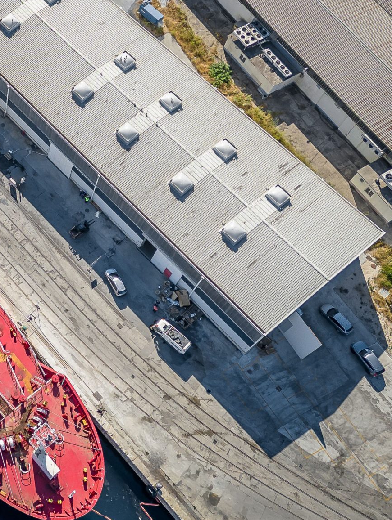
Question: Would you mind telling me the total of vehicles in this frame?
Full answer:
The number of vehicles here is 5.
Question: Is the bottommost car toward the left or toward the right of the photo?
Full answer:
The bottommost car sits on the right side.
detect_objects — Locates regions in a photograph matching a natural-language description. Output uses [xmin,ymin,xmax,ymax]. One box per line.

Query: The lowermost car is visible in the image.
[348,342,387,380]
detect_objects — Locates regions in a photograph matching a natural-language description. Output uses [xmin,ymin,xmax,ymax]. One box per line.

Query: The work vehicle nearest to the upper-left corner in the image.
[72,217,95,237]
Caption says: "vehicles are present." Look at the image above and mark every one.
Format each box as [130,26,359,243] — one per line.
[152,319,194,359]
[101,269,132,302]
[72,217,95,237]
[318,304,355,340]
[348,342,387,380]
